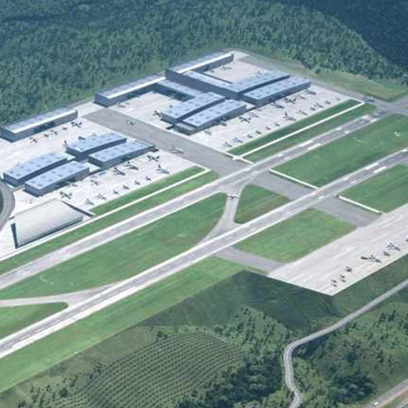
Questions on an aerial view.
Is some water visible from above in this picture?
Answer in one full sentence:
No, there is no water in the image.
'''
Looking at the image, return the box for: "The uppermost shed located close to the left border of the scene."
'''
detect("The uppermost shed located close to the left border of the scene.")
[1,105,75,140]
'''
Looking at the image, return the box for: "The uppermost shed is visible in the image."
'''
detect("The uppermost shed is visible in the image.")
[167,50,233,80]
